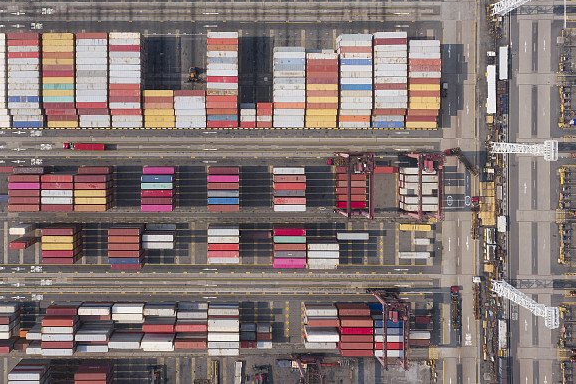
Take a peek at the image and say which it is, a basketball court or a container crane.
container crane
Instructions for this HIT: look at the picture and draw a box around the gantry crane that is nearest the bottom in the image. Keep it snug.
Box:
[289,357,325,384]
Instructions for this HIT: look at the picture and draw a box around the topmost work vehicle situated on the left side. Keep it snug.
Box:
[185,64,200,87]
